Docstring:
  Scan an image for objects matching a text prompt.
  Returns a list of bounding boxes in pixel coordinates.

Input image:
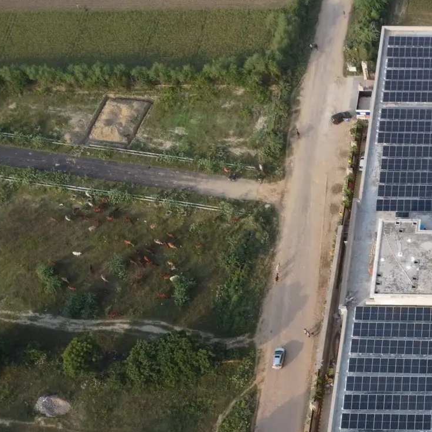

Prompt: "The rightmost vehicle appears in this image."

[332,107,353,123]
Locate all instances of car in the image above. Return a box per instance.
[273,346,286,370]
[332,107,353,123]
